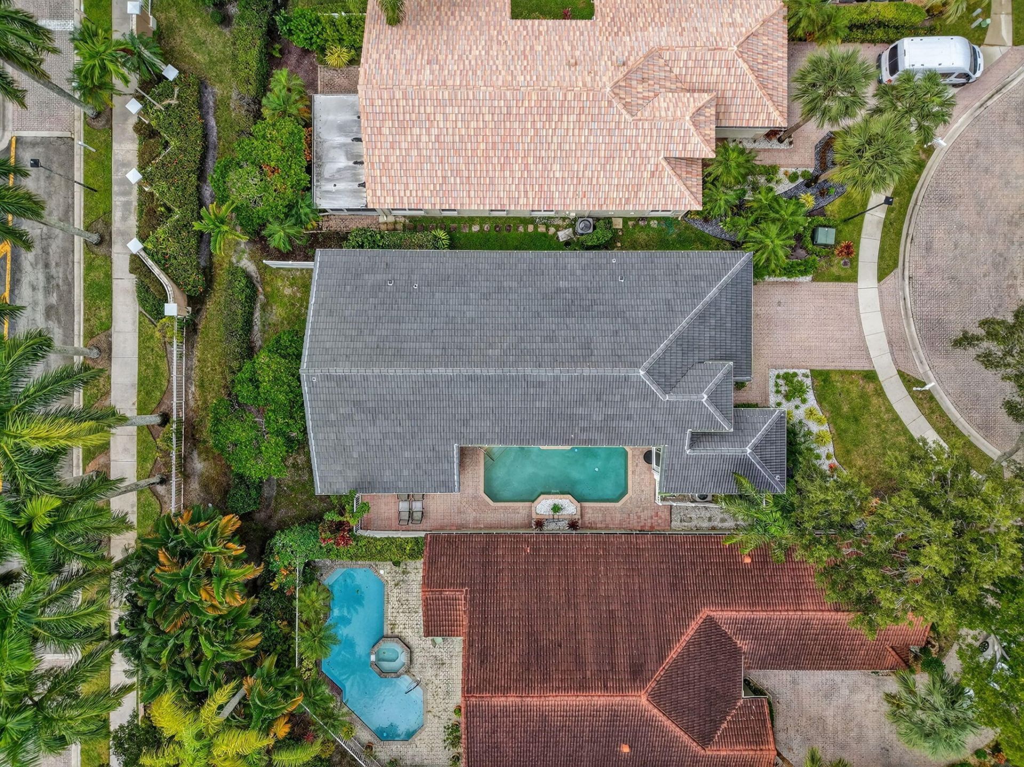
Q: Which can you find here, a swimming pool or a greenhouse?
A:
swimming pool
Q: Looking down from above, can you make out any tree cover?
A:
Yes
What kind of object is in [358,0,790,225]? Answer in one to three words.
house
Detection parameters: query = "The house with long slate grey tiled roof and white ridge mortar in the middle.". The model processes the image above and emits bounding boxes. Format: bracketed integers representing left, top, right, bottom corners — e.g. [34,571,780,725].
[299,248,789,497]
